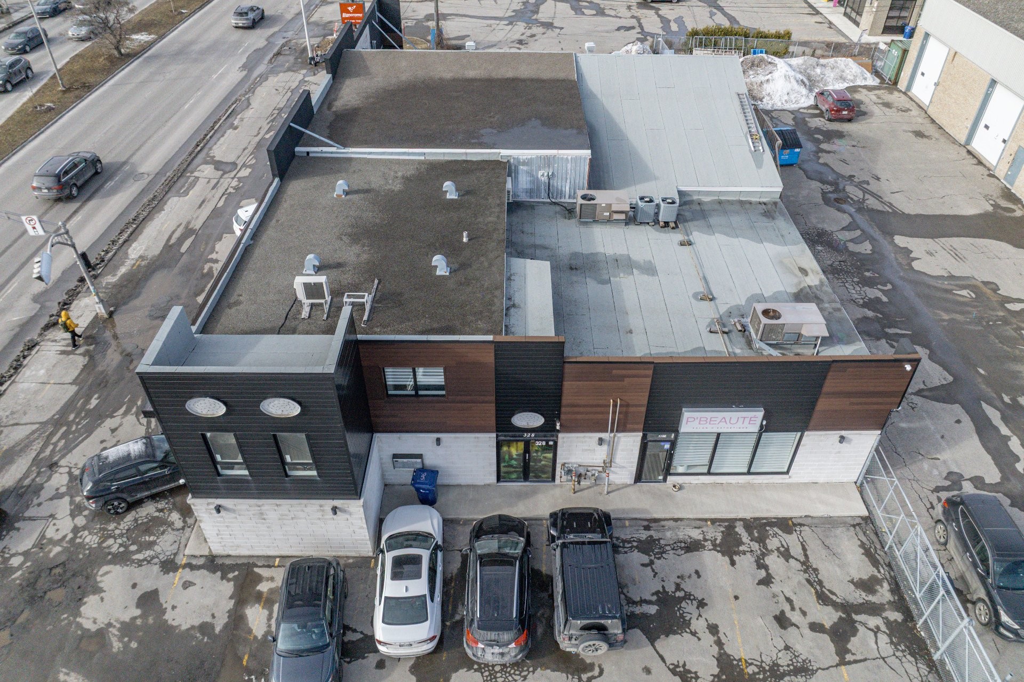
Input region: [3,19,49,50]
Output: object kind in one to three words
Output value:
car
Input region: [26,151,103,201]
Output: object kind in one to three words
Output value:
car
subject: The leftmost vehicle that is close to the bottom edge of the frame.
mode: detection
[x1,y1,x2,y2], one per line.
[259,553,353,682]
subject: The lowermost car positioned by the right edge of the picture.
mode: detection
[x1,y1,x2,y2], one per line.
[935,489,1024,654]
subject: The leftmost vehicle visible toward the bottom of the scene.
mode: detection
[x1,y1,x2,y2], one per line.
[71,430,178,514]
